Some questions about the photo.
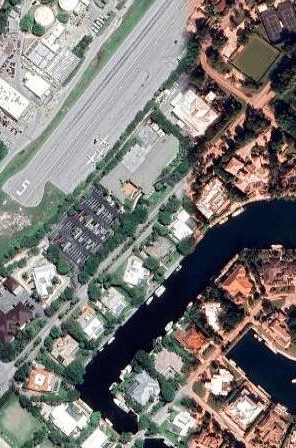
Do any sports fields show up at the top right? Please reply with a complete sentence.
Yes, at the top right there is a sports field.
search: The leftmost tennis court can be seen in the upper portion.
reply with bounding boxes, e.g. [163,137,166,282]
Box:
[257,7,284,44]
